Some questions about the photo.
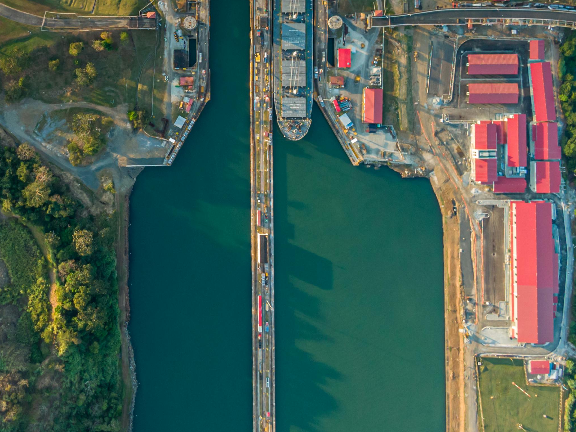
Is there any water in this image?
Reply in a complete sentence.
Yes, there is water in the image.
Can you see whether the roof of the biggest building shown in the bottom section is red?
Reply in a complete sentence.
Yes, red is the color of the roof of the biggest building shown in the bottom section.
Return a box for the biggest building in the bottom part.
[507,201,553,345]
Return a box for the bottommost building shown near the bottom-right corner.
[528,359,550,374]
